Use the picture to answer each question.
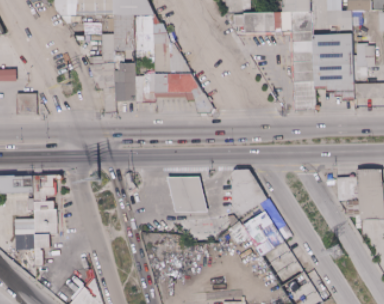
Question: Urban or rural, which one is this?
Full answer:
The area shown here is urban.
